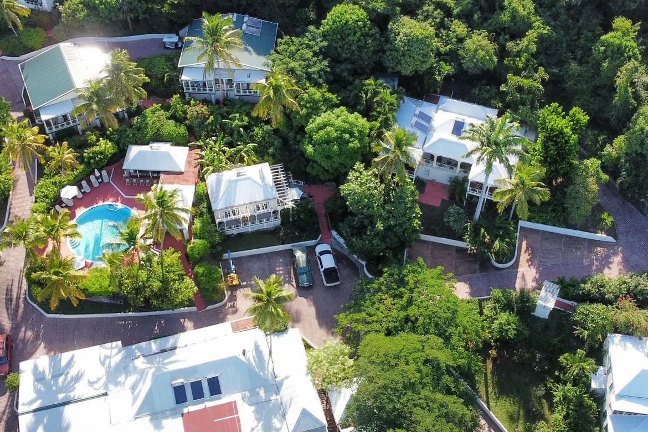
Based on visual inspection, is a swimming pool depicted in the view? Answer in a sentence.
Yes, a swimming pool is visible in the scene.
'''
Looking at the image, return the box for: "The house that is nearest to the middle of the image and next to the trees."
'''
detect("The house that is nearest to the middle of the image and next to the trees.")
[205,160,308,247]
